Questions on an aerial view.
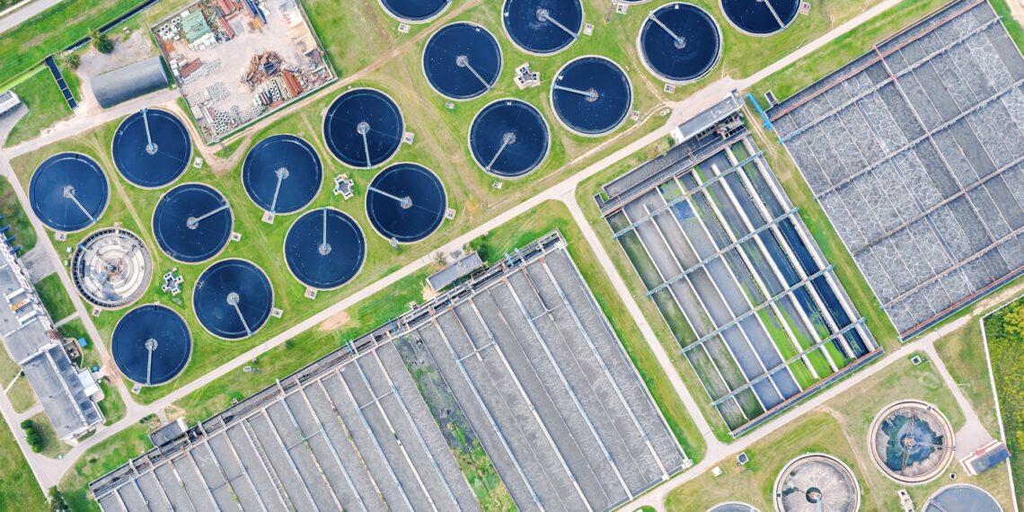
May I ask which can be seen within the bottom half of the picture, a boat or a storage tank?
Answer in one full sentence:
Visible within the bottom half of the picture is a storage tank.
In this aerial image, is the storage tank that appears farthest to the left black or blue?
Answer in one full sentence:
The color of the storage tank that appears farthest to the left is blue.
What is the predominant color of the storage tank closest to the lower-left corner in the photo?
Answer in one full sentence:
The storage tank closest to the lower-left corner looks blue in the image.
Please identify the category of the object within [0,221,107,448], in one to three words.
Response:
building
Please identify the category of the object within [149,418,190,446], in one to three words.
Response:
building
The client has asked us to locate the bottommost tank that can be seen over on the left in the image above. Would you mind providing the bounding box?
[111,304,193,388]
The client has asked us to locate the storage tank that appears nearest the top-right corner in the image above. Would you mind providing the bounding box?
[719,0,801,36]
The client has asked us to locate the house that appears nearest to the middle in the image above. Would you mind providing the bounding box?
[428,252,483,291]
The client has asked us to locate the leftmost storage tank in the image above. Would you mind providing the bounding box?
[29,151,111,233]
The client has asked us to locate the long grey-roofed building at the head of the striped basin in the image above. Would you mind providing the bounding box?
[668,89,745,146]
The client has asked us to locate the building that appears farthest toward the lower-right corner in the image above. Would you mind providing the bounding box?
[956,436,1011,475]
